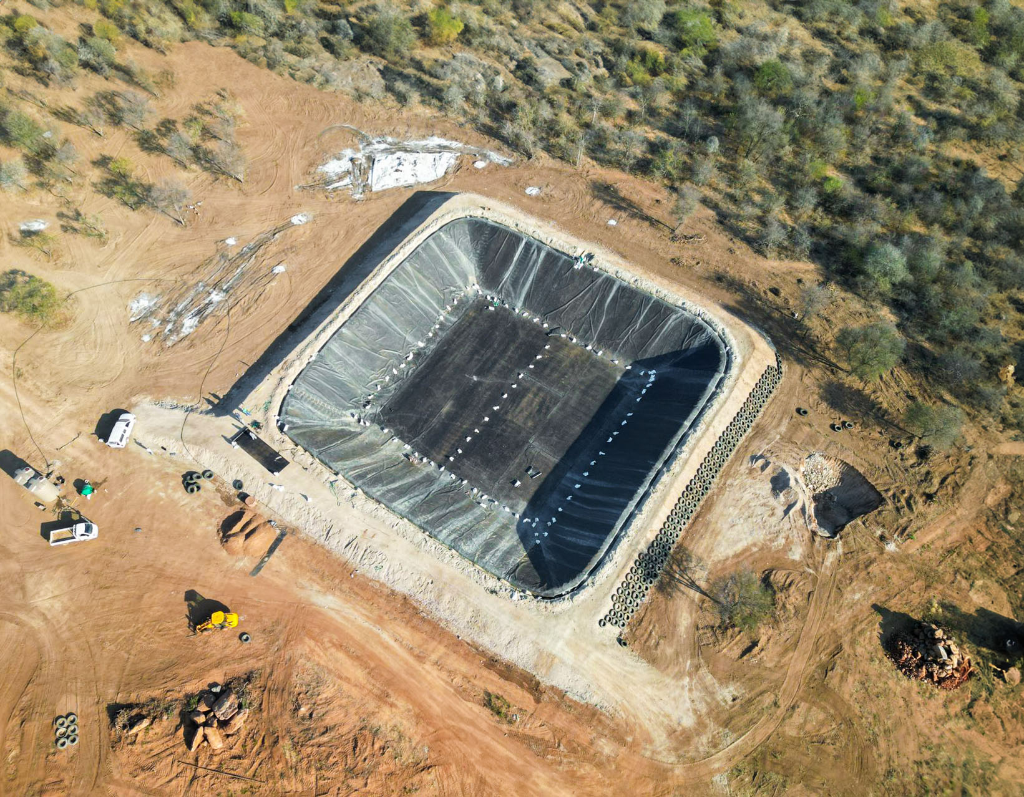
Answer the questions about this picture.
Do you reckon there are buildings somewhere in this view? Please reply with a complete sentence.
No, no building is visible in the view.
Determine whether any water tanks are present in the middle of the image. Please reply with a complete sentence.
No, in the middle of the image there is no water tank.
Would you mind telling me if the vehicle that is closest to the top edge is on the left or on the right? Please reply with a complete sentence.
It is on the left.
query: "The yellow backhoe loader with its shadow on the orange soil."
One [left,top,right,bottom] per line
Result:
[195,611,241,635]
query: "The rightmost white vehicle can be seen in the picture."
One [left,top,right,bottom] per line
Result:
[103,413,137,453]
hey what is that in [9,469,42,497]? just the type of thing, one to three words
water tank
